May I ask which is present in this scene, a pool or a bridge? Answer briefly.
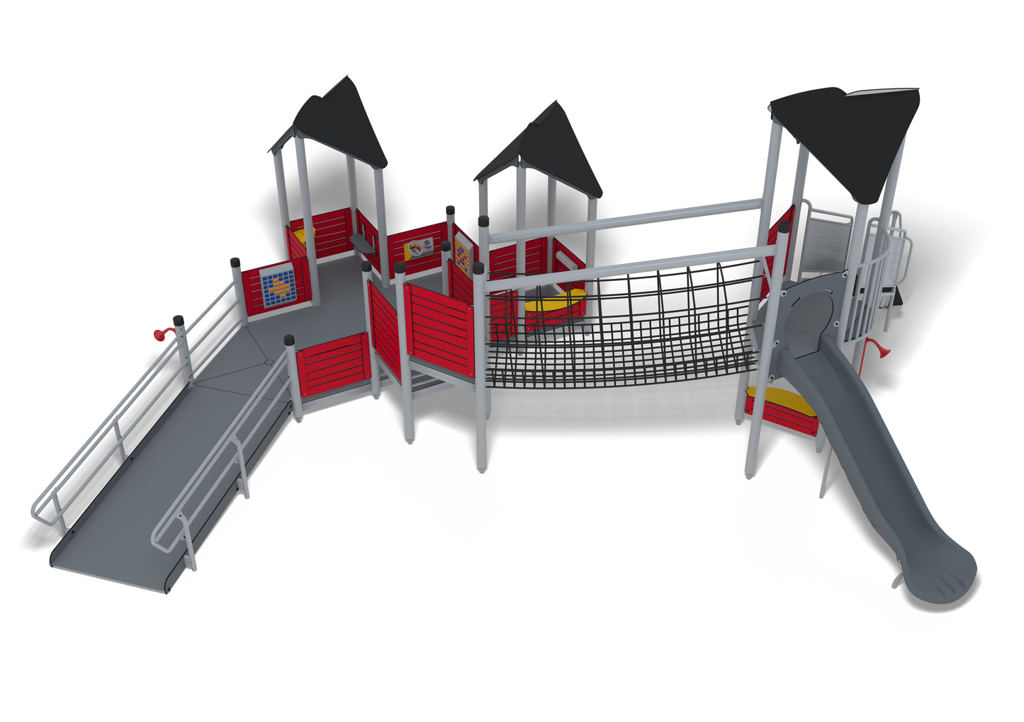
bridge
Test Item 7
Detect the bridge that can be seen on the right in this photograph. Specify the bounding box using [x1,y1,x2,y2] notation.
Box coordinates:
[482,198,777,390]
